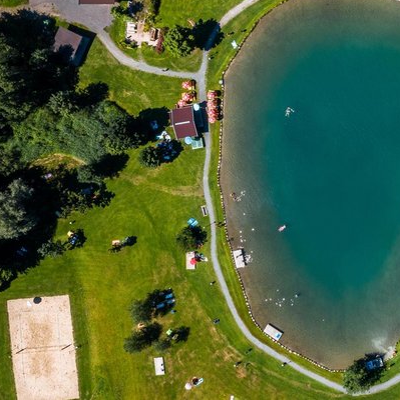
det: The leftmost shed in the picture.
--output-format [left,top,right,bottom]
[51,26,89,62]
